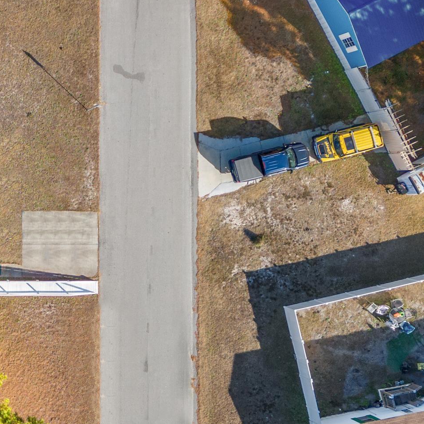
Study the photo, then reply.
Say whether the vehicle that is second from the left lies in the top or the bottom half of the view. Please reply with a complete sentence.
You can find the vehicle that is second from the left in the top half.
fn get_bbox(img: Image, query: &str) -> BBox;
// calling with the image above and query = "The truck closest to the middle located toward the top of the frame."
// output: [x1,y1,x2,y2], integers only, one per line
[224,143,305,182]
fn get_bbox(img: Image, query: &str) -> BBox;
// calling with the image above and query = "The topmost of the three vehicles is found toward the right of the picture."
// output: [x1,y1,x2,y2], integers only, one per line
[310,123,382,162]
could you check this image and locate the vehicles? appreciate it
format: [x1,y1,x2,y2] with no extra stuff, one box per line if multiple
[310,123,382,162]
[397,164,424,198]
[224,143,305,182]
